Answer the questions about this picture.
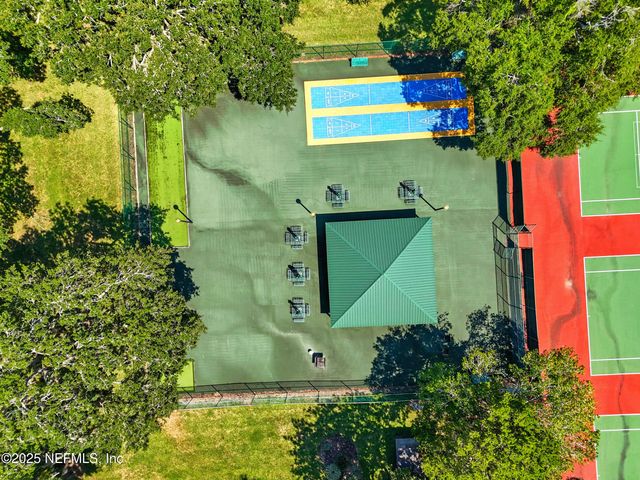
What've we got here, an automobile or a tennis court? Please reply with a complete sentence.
Visible in the photo is a tennis court.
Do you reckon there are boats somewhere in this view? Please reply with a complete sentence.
No, there is no boat in the image.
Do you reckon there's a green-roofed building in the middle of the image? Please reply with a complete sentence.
Yes, there is a green-roofed building in the middle of the image.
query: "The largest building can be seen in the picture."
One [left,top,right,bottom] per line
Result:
[324,215,438,329]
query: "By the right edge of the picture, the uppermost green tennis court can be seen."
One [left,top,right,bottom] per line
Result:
[577,94,640,217]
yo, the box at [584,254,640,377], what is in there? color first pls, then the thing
green tennis court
